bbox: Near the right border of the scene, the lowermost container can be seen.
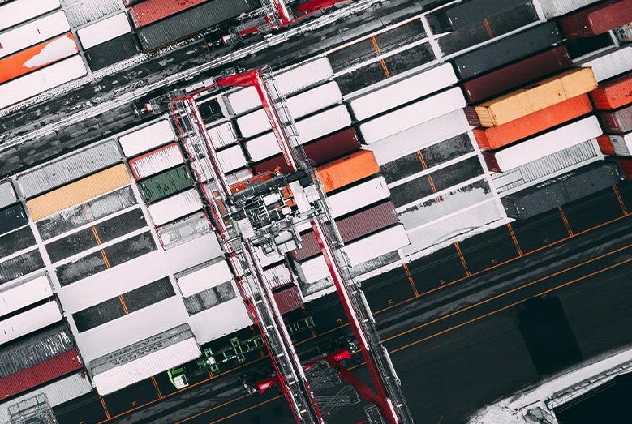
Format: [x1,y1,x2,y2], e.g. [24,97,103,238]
[502,160,621,220]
